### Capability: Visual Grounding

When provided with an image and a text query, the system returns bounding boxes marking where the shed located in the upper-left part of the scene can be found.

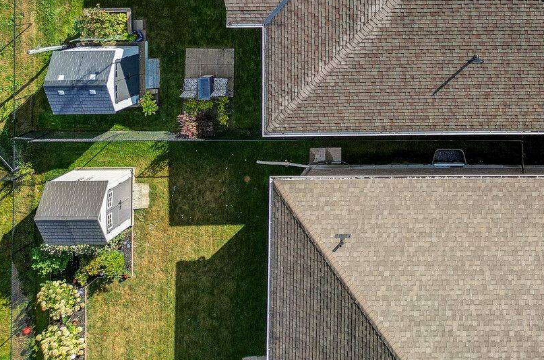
[42,47,137,112]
